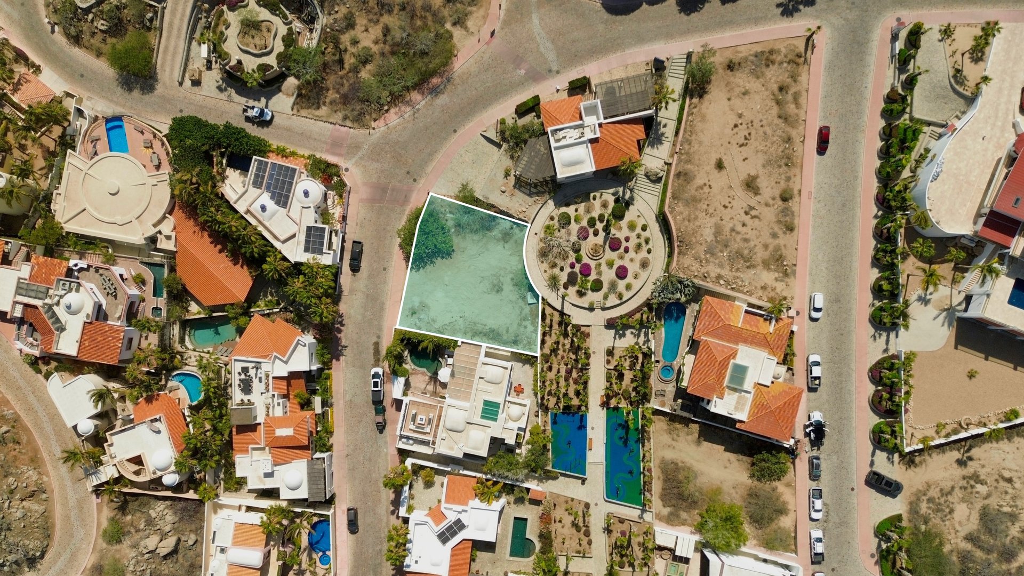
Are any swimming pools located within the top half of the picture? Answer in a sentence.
Yes, a swimming pool shows up within the top half of the picture.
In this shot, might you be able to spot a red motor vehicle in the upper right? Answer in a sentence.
Yes, looking in the upper right, one can make out a red motor vehicle.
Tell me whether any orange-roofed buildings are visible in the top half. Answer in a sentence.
Yes, an orange-roofed building is visible in the top half.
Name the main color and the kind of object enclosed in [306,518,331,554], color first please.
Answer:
blue swimming pool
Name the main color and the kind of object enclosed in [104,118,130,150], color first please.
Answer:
blue swimming pool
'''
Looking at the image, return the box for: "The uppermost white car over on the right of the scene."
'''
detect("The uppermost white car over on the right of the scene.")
[809,293,824,320]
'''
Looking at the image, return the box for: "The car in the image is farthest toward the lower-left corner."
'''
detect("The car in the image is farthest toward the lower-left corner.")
[345,506,359,534]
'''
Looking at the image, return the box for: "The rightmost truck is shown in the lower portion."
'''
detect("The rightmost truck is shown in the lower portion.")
[865,470,902,494]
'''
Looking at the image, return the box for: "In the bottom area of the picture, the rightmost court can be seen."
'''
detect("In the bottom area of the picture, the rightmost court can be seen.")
[607,408,643,507]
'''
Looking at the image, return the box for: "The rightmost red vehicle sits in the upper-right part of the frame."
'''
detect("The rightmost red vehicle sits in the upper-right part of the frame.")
[816,126,832,155]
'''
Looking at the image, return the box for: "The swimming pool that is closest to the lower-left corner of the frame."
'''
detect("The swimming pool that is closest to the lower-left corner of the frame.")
[170,370,205,405]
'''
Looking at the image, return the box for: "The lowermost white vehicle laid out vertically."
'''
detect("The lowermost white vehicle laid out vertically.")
[809,528,825,564]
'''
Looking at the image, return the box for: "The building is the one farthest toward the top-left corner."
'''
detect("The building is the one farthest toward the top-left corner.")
[6,69,63,108]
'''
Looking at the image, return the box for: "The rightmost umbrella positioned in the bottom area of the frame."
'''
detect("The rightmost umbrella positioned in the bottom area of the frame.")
[438,368,451,381]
